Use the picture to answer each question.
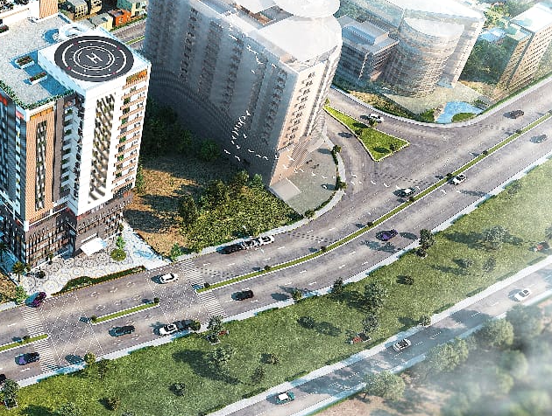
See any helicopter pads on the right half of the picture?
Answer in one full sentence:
No, there's no helicopter pad to be seen on the right half of the picture.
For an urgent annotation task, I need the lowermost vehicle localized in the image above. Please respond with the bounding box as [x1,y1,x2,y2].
[274,391,295,405]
